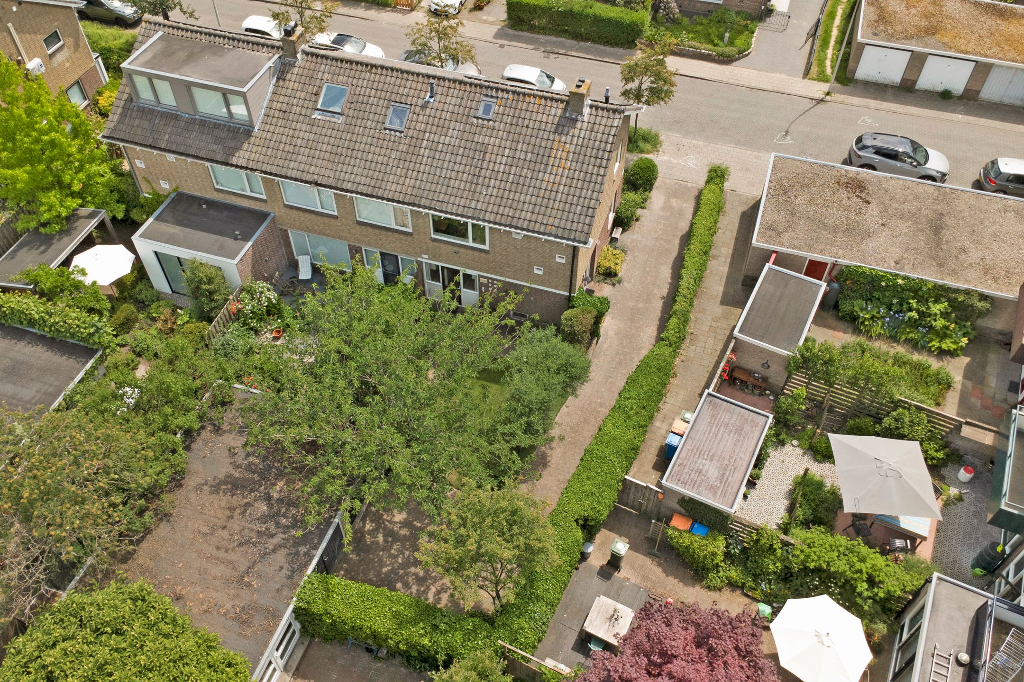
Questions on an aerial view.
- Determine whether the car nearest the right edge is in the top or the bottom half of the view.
top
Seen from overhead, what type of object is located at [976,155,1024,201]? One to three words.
car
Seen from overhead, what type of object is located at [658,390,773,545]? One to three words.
shed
